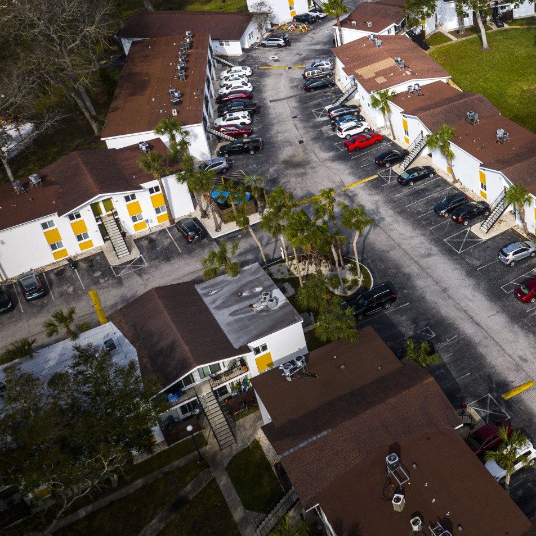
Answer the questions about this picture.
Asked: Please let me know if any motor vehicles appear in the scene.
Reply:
Yes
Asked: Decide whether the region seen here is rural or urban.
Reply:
urban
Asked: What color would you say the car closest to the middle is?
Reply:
black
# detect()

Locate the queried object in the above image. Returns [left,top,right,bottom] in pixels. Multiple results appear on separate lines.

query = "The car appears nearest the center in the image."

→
[176,219,206,247]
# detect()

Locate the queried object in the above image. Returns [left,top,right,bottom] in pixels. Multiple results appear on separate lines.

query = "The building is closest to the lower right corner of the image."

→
[229,324,536,536]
